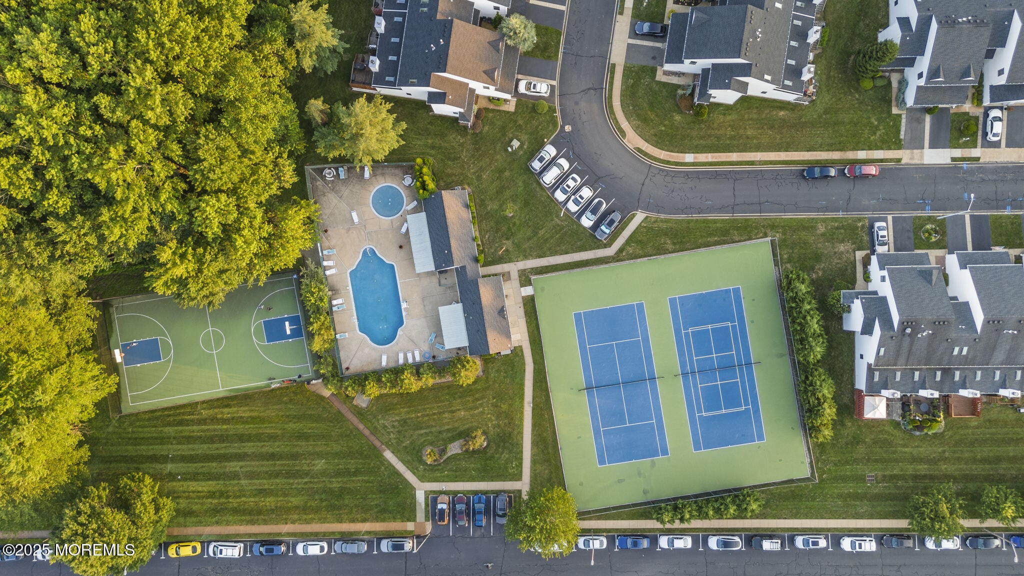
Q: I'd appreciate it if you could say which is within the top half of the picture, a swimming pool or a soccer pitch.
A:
swimming pool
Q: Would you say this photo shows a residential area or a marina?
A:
residential area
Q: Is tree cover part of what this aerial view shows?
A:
Yes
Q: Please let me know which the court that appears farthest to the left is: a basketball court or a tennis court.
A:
basketball court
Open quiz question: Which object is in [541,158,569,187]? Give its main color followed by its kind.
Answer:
white car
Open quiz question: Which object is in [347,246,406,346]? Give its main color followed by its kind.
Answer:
blue swimming pool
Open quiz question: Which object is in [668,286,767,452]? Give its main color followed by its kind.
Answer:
blue tennis court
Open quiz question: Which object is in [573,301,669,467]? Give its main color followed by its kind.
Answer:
blue tennis court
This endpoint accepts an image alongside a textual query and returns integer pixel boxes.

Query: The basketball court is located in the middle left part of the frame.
[105,274,314,415]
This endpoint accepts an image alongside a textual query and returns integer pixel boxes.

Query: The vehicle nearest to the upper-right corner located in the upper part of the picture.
[985,109,1004,142]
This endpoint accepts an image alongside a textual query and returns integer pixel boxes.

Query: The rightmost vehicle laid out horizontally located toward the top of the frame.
[845,163,878,178]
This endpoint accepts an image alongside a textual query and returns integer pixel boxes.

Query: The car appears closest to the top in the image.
[634,20,667,37]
